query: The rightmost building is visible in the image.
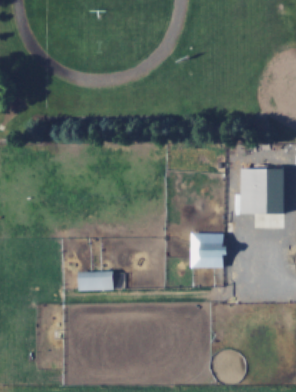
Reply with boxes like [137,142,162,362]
[236,168,284,214]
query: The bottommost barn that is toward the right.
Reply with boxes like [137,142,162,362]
[190,233,226,268]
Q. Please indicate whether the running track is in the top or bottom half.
top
